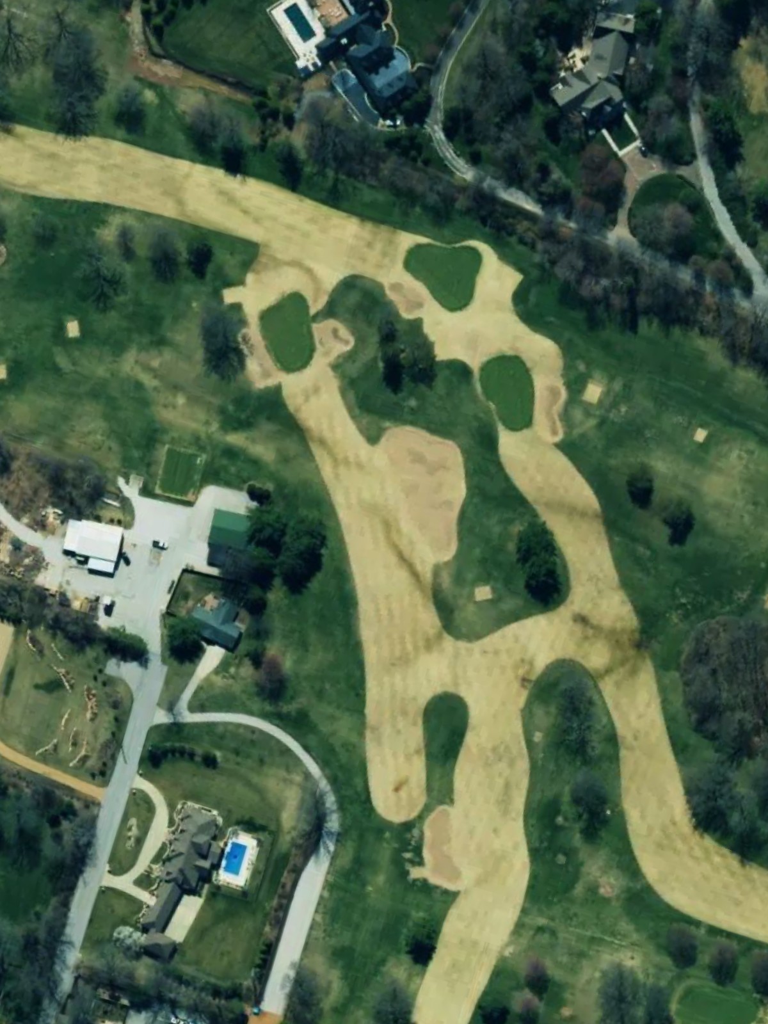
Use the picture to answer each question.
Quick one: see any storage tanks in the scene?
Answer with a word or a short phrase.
No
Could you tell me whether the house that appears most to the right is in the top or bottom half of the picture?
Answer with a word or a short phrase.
top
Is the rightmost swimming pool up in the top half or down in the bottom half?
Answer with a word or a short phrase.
top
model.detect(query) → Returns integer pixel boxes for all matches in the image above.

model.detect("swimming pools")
[270,0,325,70]
[216,832,258,886]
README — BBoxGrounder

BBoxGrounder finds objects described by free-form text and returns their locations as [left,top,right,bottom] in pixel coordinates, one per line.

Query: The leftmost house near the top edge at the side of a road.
[313,0,413,97]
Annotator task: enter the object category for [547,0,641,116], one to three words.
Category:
house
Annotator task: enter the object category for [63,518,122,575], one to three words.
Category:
shed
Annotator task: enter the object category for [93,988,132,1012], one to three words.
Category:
house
